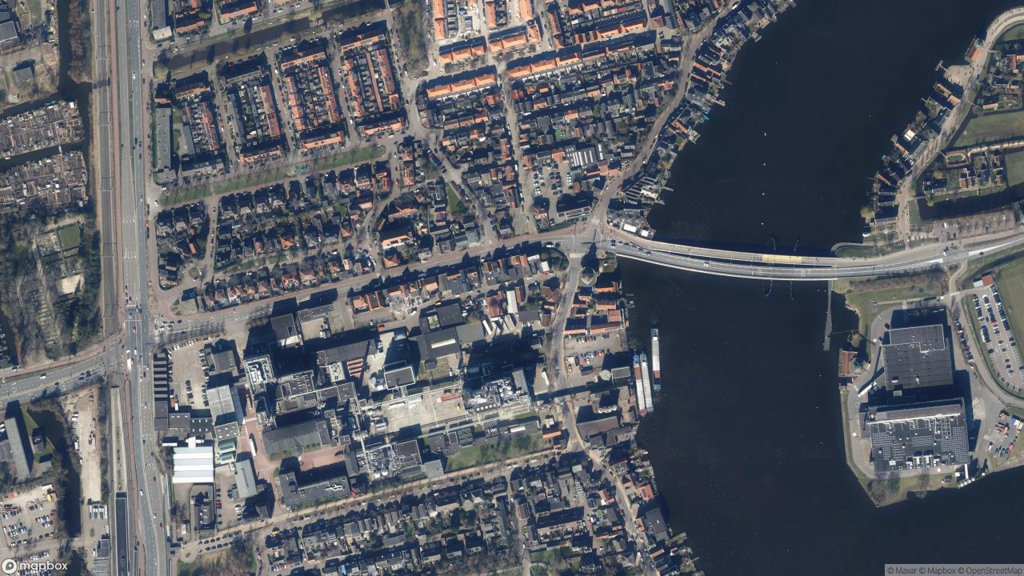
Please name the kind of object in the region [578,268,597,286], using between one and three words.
windmill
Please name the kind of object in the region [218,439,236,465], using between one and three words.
shed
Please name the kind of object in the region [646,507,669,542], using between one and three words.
building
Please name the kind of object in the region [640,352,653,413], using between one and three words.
ship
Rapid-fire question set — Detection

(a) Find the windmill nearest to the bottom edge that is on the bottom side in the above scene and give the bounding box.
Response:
[849,357,867,374]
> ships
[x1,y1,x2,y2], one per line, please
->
[651,328,661,391]
[640,352,653,413]
[633,353,646,417]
